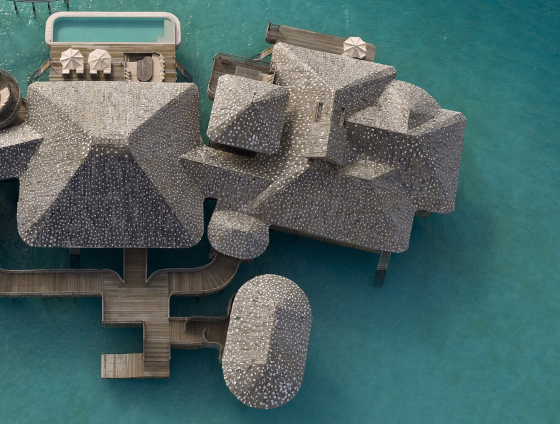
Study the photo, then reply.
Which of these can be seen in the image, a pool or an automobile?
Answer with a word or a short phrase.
pool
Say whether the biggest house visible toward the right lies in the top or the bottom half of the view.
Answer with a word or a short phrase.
top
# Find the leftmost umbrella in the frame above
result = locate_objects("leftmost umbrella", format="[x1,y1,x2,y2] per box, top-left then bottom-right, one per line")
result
[59,47,85,71]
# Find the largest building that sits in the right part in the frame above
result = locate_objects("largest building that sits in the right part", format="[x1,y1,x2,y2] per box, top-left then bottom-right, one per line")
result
[244,42,468,254]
